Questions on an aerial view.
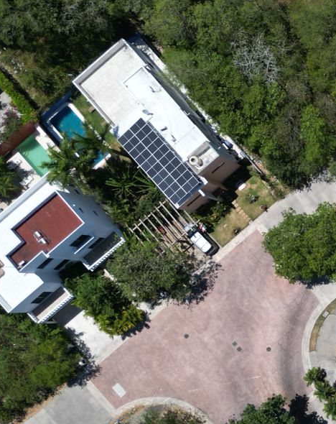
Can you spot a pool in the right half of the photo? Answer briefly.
No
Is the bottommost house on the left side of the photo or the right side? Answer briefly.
left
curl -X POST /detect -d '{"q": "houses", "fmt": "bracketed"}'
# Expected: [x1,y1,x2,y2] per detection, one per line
[0,172,125,323]
[74,39,241,213]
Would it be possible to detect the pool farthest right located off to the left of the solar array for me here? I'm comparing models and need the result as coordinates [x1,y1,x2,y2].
[45,102,114,172]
